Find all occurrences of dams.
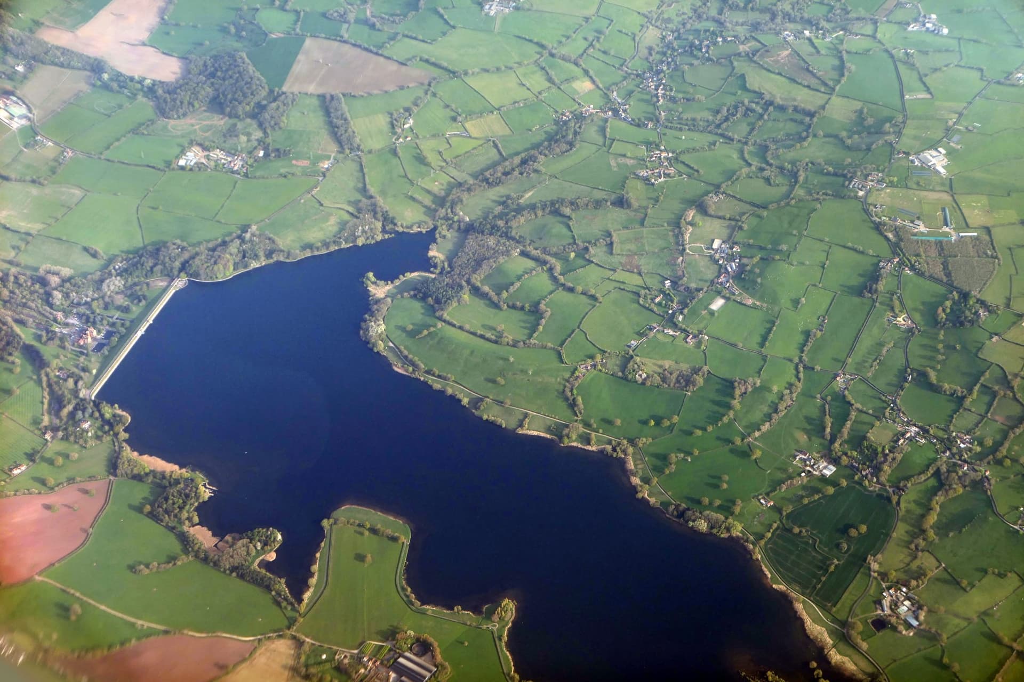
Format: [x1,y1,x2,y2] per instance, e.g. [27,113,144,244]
[82,287,177,398]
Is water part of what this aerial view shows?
Yes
